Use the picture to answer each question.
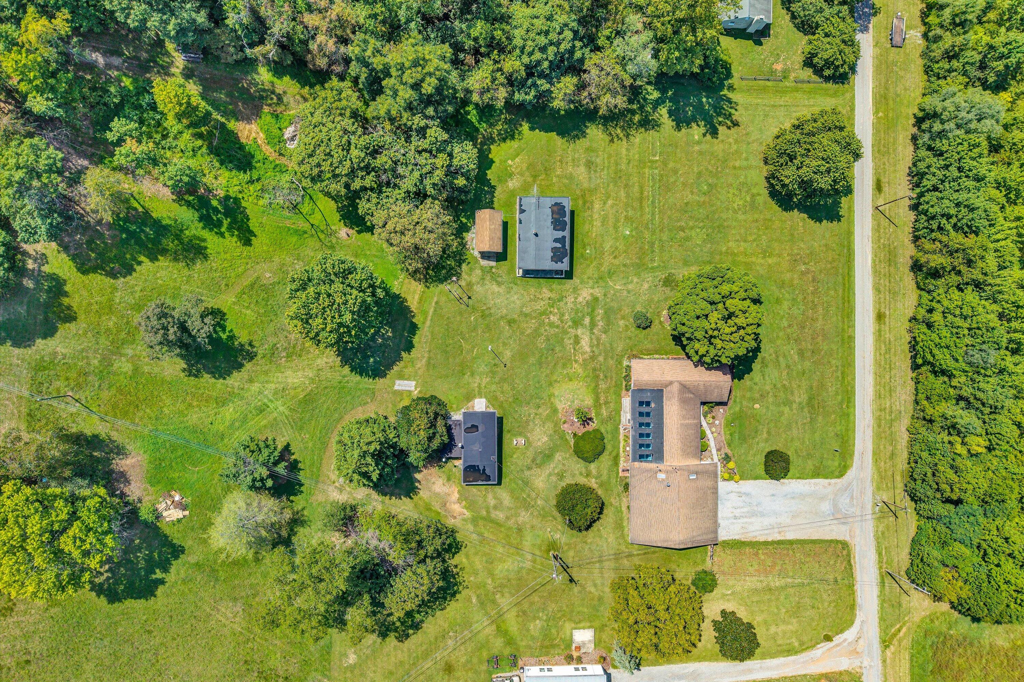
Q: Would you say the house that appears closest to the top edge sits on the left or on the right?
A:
right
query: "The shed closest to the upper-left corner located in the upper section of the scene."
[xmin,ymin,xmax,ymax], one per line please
[475,209,503,266]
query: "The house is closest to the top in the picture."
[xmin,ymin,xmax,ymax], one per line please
[719,0,772,40]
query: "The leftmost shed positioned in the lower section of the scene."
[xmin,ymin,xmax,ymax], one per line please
[444,399,497,484]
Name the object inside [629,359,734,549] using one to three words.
house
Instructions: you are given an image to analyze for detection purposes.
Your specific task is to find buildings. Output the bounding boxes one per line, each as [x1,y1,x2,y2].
[475,209,503,266]
[719,0,772,40]
[525,667,604,682]
[517,196,570,277]
[444,399,497,484]
[629,359,734,549]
